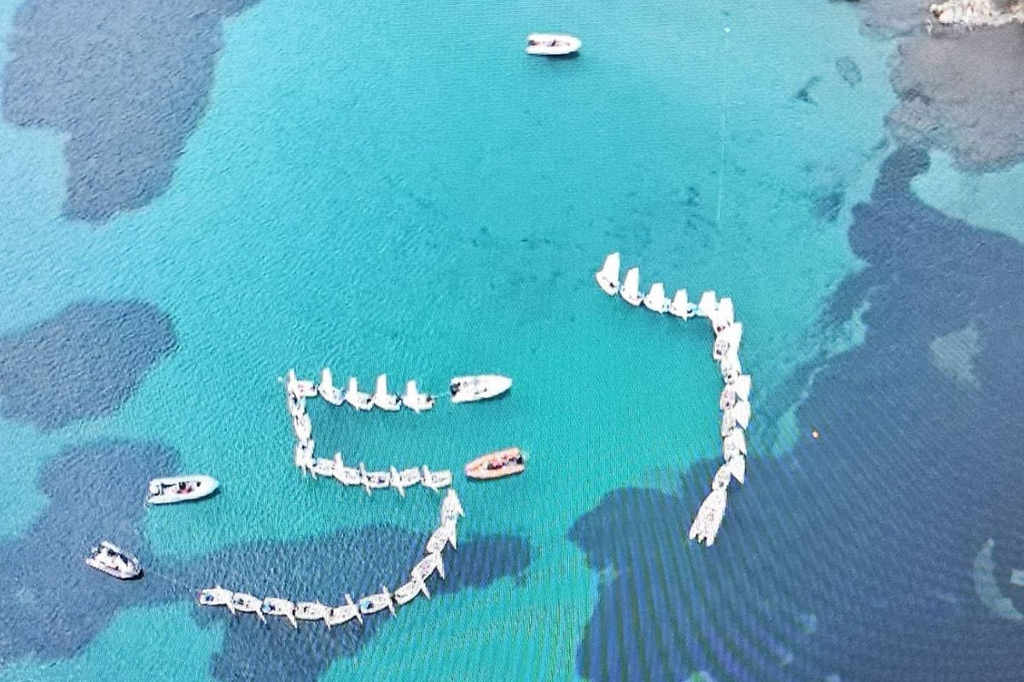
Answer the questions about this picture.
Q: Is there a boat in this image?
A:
Yes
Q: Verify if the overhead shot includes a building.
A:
No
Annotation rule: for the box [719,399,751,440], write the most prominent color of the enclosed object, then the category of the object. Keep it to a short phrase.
white boat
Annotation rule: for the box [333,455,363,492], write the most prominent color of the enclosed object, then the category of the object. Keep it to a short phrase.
white boat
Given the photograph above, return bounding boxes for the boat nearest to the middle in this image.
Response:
[446,375,512,400]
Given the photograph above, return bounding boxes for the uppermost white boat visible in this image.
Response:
[524,35,581,51]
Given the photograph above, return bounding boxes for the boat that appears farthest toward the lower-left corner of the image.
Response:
[84,544,141,573]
